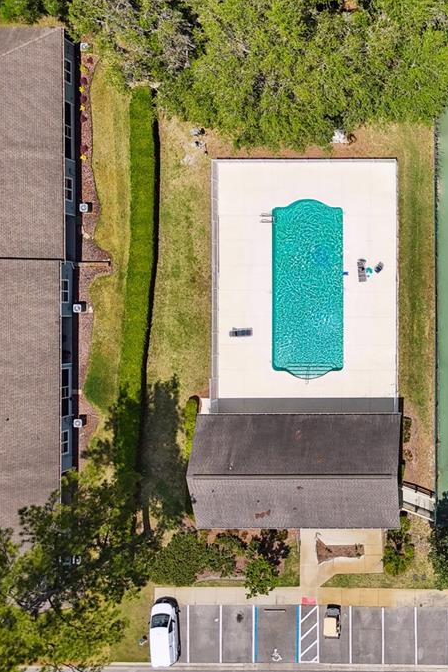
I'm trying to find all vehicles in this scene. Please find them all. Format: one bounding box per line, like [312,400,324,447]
[323,603,343,638]
[148,604,180,666]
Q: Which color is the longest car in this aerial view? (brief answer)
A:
white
